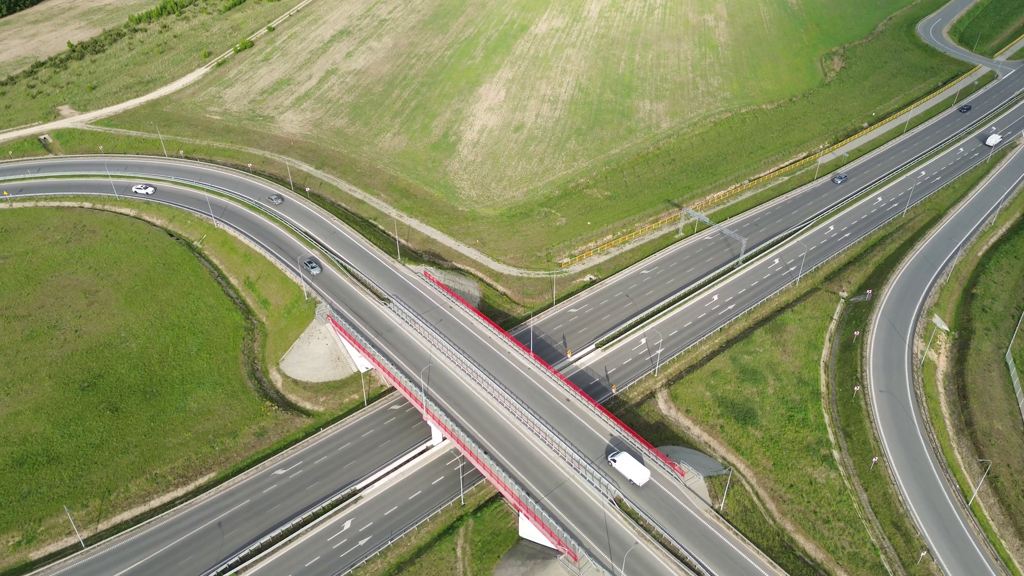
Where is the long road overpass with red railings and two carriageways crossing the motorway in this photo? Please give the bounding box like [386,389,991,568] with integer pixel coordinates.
[330,275,678,552]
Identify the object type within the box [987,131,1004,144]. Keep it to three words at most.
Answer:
vehicle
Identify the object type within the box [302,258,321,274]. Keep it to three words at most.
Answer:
car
